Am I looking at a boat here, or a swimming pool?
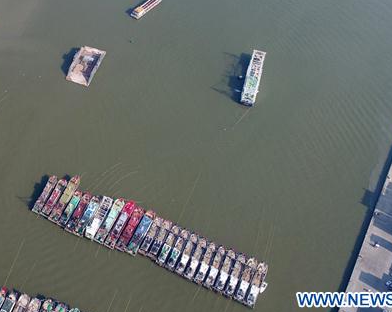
boat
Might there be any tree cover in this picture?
No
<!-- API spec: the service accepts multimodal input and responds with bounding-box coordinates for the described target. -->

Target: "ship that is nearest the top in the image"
[131,0,161,20]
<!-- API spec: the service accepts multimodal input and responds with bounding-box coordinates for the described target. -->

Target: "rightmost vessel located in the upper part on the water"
[243,47,266,112]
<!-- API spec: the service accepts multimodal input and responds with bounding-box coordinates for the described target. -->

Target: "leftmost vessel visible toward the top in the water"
[65,47,105,91]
